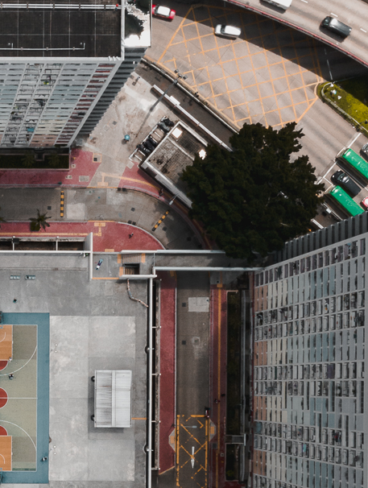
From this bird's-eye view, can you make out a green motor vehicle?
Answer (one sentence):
Yes, a green motor vehicle appears in the view.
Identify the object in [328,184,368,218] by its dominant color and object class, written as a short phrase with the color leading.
green vehicle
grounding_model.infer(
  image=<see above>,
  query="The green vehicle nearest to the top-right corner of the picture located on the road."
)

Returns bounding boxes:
[337,147,368,185]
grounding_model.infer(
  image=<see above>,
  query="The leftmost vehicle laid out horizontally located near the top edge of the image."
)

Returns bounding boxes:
[150,5,177,21]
